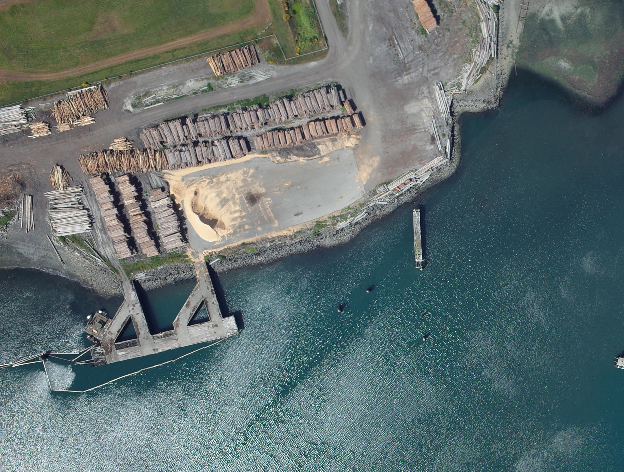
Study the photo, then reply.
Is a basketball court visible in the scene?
No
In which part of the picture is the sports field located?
top left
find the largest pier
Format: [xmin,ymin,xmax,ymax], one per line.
[90,261,239,367]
